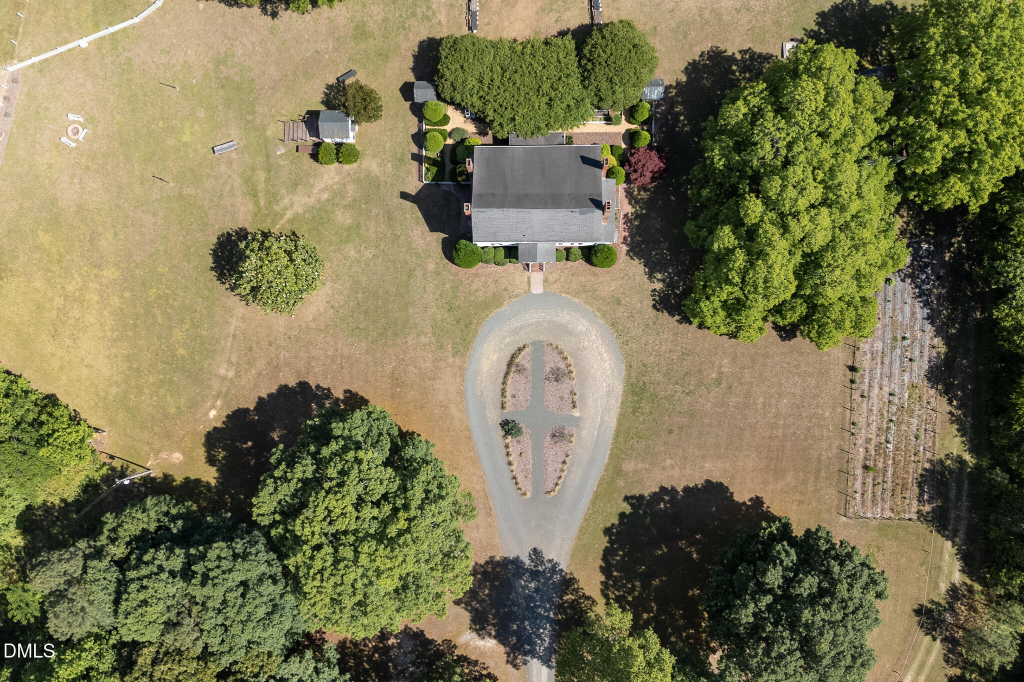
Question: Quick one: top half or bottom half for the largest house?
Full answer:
The largest house sits in the top half of the picture.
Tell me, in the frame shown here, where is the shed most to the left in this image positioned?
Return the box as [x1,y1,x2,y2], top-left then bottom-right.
[317,111,354,142]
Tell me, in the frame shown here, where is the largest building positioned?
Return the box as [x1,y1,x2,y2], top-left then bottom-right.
[464,132,616,274]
